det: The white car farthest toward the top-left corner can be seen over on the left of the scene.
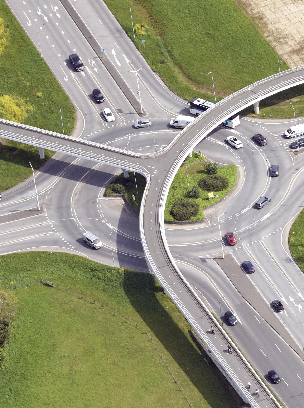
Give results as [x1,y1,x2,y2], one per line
[102,108,115,121]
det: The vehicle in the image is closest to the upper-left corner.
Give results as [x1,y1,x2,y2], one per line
[70,52,84,70]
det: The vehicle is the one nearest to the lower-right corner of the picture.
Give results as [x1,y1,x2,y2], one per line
[266,369,281,384]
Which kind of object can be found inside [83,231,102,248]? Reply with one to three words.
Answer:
vehicle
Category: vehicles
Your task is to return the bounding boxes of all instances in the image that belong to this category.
[170,113,199,130]
[252,133,270,146]
[241,259,256,274]
[189,96,239,128]
[70,52,84,70]
[91,86,105,102]
[270,164,280,177]
[291,137,304,149]
[225,232,236,246]
[271,299,285,313]
[133,118,152,129]
[225,135,244,149]
[266,369,281,384]
[253,195,274,208]
[224,310,237,325]
[83,231,102,248]
[284,123,304,139]
[102,108,115,121]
